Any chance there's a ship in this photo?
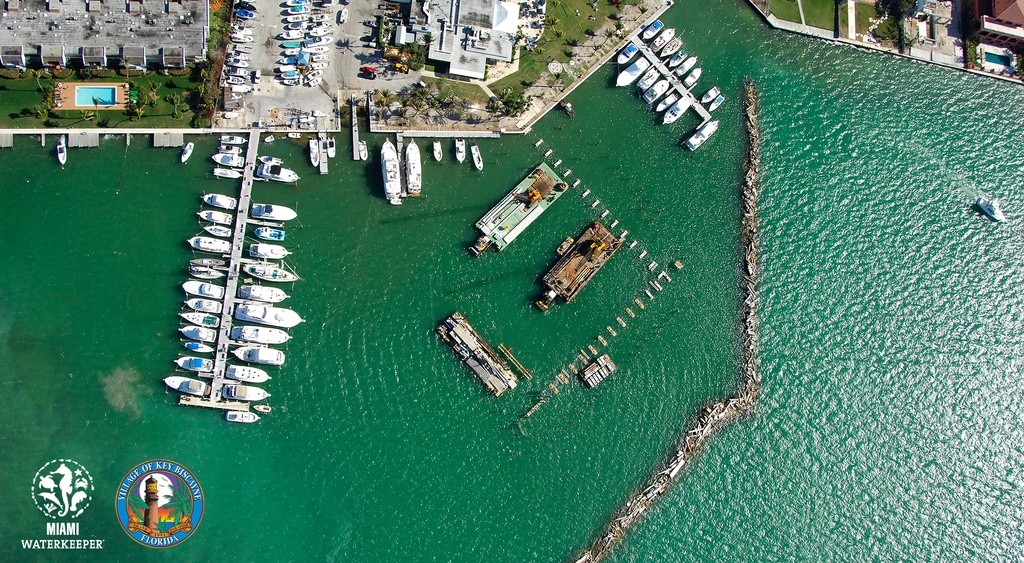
Yes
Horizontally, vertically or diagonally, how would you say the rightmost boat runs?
diagonally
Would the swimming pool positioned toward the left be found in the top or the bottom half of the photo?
top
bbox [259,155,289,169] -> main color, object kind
white boat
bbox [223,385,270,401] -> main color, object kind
white boat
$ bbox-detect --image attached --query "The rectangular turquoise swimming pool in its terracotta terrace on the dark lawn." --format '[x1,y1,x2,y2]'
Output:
[55,83,129,110]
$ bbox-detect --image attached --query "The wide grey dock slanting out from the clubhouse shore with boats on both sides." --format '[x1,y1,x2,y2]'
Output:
[630,32,712,130]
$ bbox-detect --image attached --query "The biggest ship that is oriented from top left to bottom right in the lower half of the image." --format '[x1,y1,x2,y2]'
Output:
[436,312,518,398]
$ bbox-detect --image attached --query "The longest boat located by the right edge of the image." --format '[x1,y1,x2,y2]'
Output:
[973,196,1005,221]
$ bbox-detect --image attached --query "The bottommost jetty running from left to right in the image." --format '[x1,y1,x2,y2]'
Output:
[178,397,250,411]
